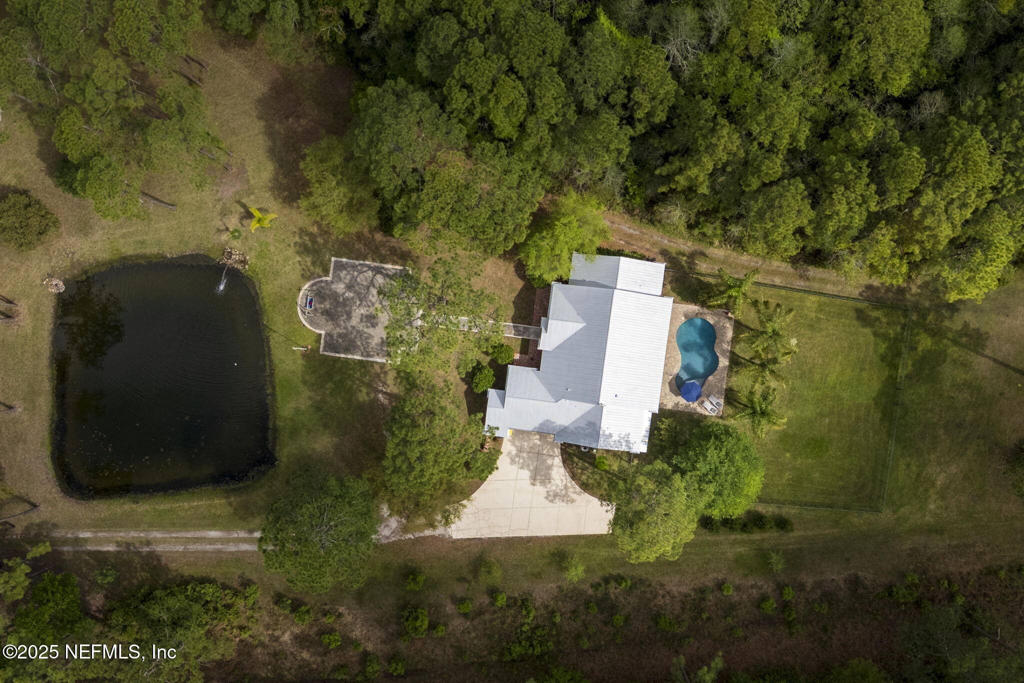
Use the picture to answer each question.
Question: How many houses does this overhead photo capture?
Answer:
1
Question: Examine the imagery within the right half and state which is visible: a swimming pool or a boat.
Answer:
swimming pool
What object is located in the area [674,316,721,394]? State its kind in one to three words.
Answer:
swimming pool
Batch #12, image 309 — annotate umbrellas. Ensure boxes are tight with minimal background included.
[678,380,700,402]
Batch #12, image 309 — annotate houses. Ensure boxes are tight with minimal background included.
[485,252,674,455]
